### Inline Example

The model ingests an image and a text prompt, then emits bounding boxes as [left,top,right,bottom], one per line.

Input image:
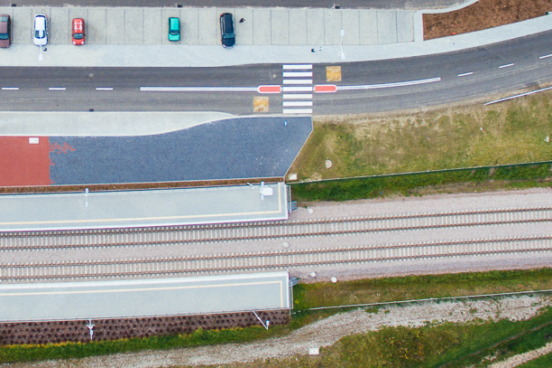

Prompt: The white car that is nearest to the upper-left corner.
[32,14,49,46]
